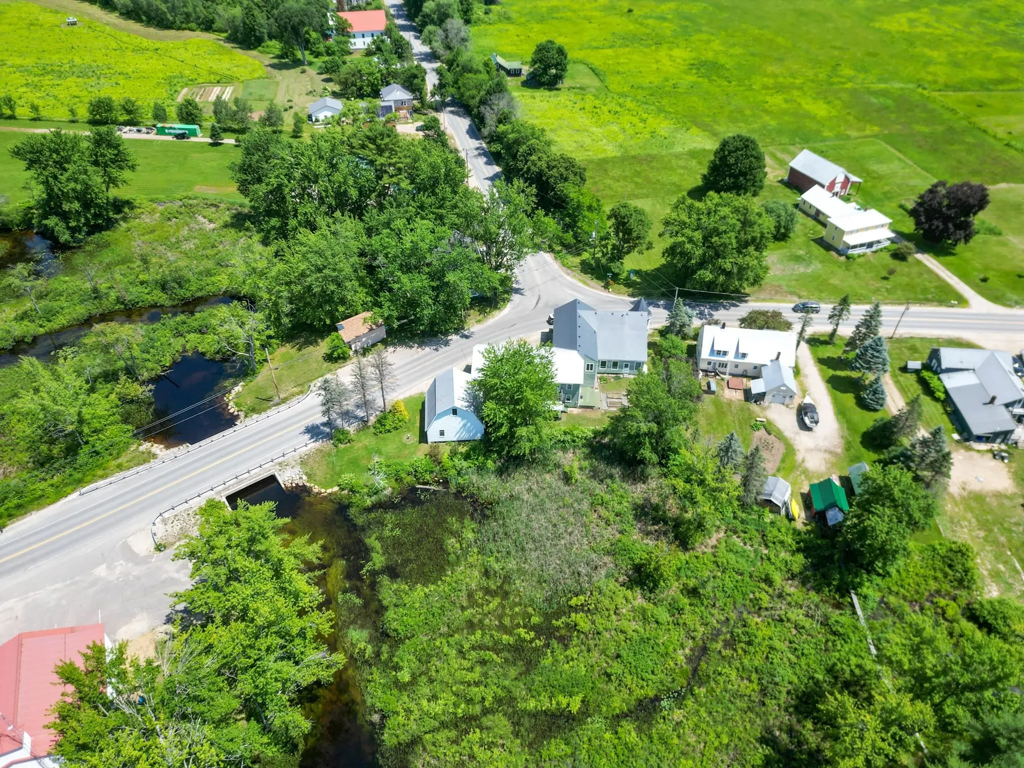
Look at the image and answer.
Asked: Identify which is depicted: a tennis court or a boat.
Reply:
boat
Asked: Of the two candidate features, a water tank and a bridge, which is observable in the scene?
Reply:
bridge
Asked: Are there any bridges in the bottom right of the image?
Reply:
No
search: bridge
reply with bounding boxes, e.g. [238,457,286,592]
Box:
[192,422,289,513]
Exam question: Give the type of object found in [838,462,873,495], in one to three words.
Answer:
shed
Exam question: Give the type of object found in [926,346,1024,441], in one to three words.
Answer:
house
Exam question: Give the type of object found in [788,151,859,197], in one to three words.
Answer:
barn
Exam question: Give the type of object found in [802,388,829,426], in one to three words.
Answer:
boat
